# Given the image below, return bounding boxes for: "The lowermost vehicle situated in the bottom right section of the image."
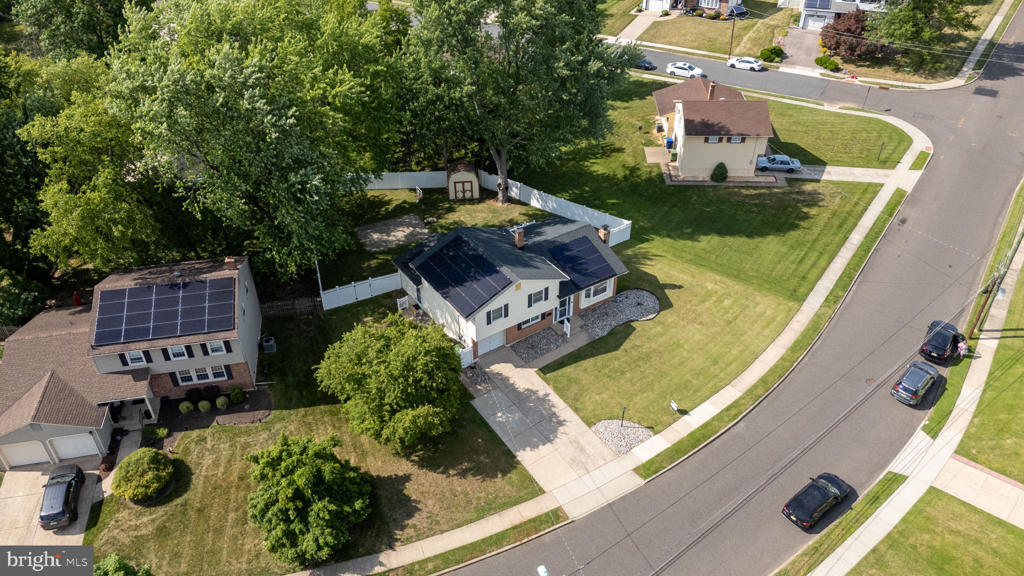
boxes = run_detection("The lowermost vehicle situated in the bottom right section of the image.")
[786,476,851,529]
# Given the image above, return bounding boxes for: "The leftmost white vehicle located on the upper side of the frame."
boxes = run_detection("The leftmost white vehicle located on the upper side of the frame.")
[665,60,702,77]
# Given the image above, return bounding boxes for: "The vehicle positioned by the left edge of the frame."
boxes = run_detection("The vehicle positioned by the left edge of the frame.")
[36,466,83,529]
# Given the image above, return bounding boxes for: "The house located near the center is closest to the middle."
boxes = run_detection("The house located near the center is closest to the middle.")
[392,216,629,362]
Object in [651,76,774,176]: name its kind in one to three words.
house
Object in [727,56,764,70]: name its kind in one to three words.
car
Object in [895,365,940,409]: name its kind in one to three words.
car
